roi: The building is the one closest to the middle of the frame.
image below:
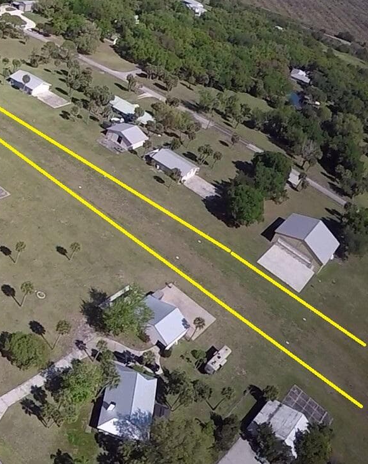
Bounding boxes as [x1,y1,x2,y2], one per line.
[138,147,198,187]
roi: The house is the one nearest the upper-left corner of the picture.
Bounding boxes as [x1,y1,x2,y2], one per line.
[1,0,33,14]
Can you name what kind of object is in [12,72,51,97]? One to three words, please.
hangar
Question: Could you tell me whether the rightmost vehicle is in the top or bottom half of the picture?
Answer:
bottom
